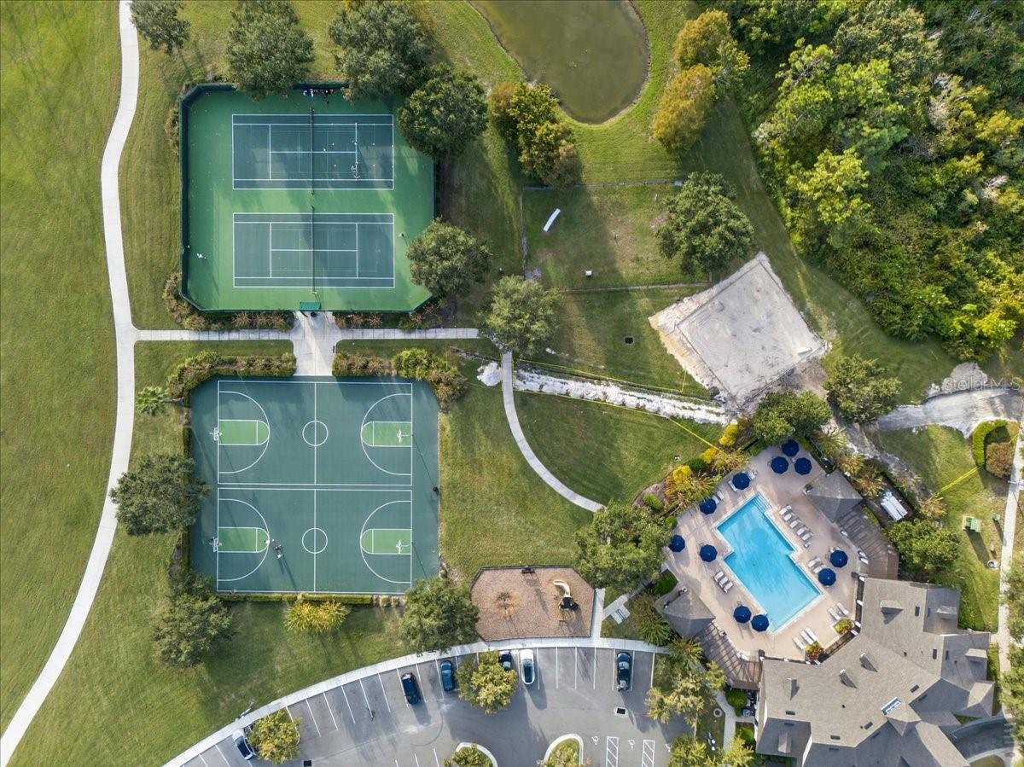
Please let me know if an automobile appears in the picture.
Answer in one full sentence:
Yes, an automobile can be made out from above.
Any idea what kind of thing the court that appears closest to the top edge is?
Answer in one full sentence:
It turns out the court that appears closest to the top edge is a tennis court.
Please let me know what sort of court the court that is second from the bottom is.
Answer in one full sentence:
It looks like the court that is second from the bottom is a basketball court.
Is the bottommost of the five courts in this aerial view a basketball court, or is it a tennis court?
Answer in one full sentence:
In the photo, the bottommost of the five courts shows up as a basketball court.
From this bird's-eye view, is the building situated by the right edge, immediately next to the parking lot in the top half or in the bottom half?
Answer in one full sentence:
The building situated by the right edge, immediately next to the parking lot sits in the bottom half of the picture.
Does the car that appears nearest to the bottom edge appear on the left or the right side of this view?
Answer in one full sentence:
It is on the left.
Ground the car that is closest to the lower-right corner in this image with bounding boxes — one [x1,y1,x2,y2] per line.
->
[617,652,633,690]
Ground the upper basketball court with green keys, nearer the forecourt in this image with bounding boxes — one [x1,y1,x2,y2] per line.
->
[217,380,413,486]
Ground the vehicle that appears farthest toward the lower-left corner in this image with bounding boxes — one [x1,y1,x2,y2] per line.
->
[232,727,253,761]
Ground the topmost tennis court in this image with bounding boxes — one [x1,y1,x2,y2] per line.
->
[232,114,394,189]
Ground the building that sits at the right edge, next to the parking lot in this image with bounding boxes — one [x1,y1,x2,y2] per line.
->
[753,570,994,767]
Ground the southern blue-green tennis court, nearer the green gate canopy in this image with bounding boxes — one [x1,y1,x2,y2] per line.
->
[233,213,395,288]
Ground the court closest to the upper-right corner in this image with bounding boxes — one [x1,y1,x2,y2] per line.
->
[650,251,828,408]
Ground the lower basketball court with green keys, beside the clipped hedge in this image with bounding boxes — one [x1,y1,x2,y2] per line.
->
[217,488,412,593]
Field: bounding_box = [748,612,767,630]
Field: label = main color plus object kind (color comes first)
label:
blue umbrella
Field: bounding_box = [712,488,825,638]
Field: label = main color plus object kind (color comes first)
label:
blue swimming pool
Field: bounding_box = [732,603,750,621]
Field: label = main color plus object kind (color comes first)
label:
blue umbrella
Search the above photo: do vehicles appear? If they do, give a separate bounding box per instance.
[439,659,455,692]
[499,648,514,680]
[401,672,420,705]
[617,652,633,690]
[232,727,253,761]
[520,649,536,684]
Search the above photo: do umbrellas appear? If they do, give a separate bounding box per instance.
[793,457,811,475]
[748,612,767,630]
[697,496,715,514]
[816,567,834,585]
[829,549,846,566]
[668,535,685,552]
[731,471,749,489]
[699,543,717,561]
[770,456,788,474]
[732,603,750,621]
